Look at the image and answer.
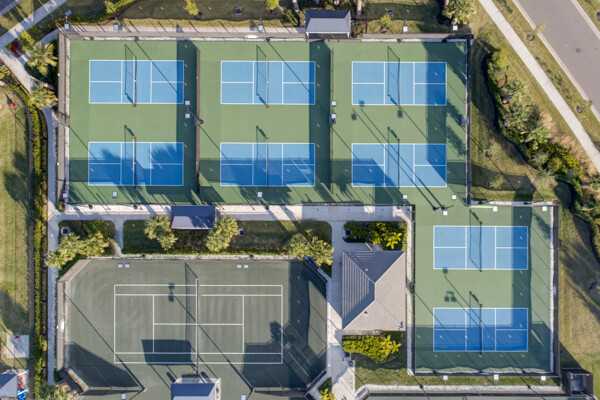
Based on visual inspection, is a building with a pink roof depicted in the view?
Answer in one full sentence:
No, there isn't any building with a pink roof down there.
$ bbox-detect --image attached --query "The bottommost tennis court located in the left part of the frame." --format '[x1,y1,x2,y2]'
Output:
[70,257,327,400]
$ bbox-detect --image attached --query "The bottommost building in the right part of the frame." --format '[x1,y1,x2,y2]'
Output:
[340,251,407,331]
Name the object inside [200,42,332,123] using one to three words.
sports court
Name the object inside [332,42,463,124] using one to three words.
sports court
